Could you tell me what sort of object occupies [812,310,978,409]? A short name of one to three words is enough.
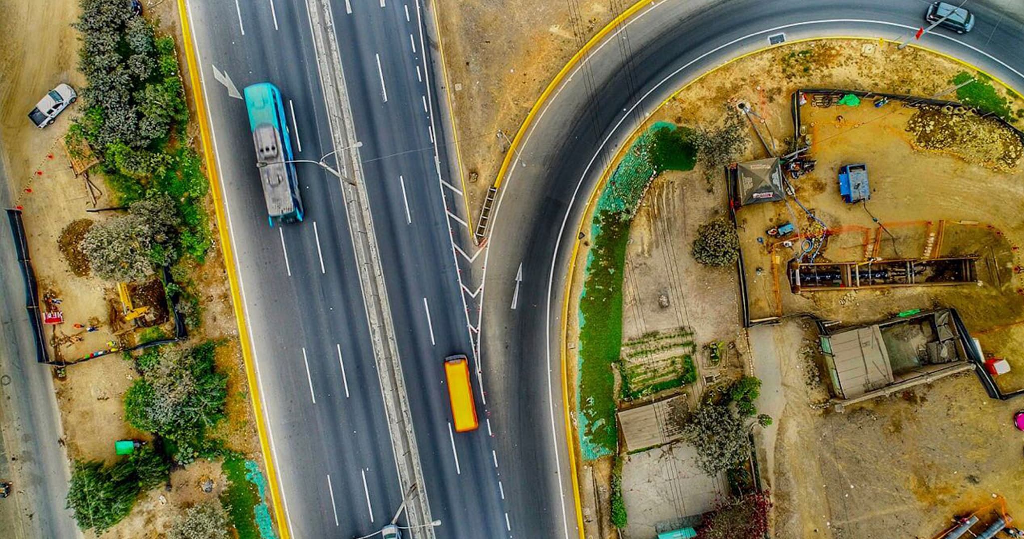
building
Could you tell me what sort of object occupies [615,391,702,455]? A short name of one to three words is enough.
shed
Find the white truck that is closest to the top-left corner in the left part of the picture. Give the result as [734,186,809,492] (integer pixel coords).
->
[26,84,79,130]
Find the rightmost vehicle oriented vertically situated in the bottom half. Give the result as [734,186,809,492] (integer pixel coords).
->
[444,352,478,431]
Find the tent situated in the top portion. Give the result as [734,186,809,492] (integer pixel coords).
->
[736,158,783,207]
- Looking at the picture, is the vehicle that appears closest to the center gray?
No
